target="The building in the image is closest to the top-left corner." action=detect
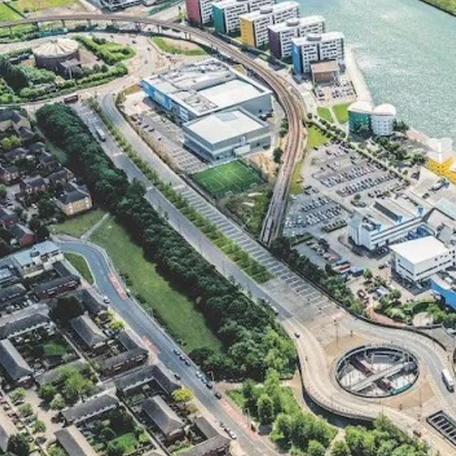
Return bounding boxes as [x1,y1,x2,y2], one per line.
[30,40,81,79]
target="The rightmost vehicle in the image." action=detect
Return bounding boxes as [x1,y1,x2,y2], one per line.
[442,366,455,390]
